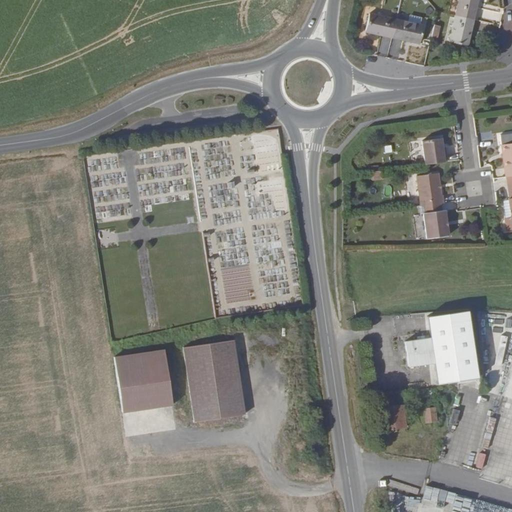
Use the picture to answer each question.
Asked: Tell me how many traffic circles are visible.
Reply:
one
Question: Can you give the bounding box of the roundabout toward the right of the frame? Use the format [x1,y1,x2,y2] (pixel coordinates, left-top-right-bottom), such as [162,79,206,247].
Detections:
[262,37,354,129]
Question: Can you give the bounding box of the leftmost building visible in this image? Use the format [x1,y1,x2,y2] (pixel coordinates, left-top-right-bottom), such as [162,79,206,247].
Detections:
[114,350,173,412]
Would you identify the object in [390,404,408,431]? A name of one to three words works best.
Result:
house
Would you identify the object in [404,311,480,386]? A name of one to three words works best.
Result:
building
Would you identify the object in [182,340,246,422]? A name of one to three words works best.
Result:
barn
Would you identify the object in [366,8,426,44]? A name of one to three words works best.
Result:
house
